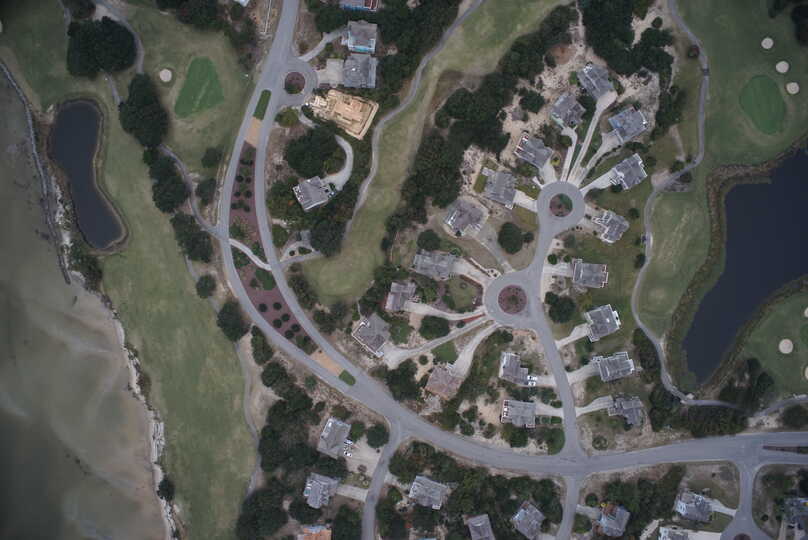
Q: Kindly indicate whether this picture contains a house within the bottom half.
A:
Yes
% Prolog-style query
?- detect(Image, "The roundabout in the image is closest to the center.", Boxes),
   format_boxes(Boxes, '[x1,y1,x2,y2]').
[485,272,540,328]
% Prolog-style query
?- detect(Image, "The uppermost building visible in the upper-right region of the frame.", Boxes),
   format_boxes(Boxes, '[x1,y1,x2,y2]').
[577,62,612,99]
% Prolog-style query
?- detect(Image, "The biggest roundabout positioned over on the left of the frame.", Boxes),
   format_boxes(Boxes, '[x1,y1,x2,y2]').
[272,60,317,105]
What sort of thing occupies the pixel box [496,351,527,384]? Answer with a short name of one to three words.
house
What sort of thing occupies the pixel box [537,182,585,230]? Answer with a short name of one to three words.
roundabout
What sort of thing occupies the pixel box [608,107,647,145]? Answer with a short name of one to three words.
house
